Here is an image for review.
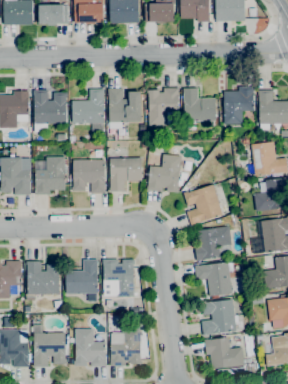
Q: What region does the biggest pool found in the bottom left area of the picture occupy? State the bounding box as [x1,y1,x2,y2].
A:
[45,317,66,330]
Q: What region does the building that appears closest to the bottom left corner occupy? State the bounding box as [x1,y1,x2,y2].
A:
[0,329,29,366]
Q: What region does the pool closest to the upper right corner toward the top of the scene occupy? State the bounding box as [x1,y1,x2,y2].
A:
[180,146,202,160]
